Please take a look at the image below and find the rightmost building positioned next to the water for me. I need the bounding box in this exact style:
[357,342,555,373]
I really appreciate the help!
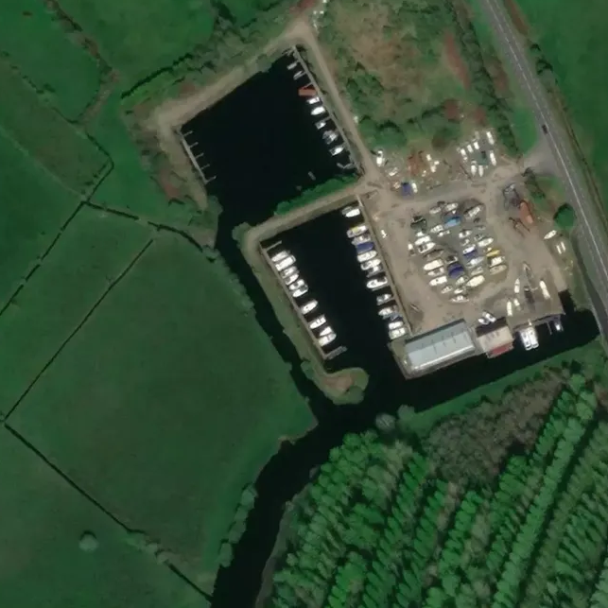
[478,324,518,360]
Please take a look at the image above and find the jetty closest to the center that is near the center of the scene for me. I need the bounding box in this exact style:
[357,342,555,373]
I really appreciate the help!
[259,240,347,359]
